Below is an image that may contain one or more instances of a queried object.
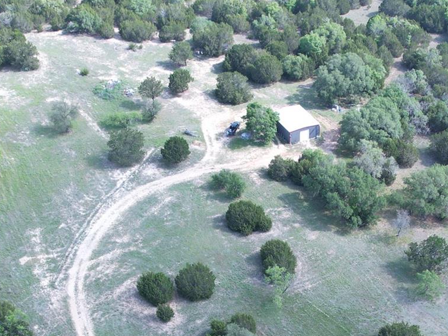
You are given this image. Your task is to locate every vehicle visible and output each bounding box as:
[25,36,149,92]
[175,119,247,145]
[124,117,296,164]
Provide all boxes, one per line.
[219,123,241,136]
